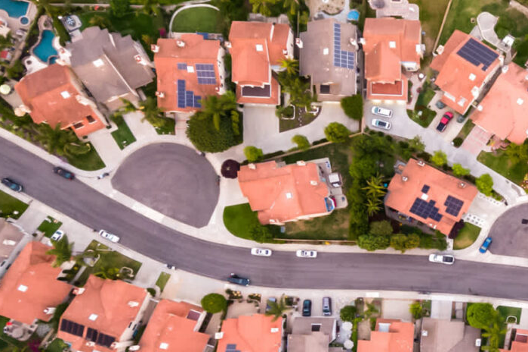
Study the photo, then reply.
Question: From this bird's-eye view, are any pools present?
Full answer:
Yes, the picture does show a pool.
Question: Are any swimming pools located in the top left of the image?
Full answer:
Yes, the scene does show a swimming pool in the top left of the image.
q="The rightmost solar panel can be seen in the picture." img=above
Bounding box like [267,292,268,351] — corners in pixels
[458,38,498,71]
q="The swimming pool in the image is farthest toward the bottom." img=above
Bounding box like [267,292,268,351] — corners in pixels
[31,28,60,66]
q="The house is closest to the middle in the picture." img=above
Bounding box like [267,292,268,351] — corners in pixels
[237,157,332,225]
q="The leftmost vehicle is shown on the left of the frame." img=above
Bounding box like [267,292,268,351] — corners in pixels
[2,177,23,191]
